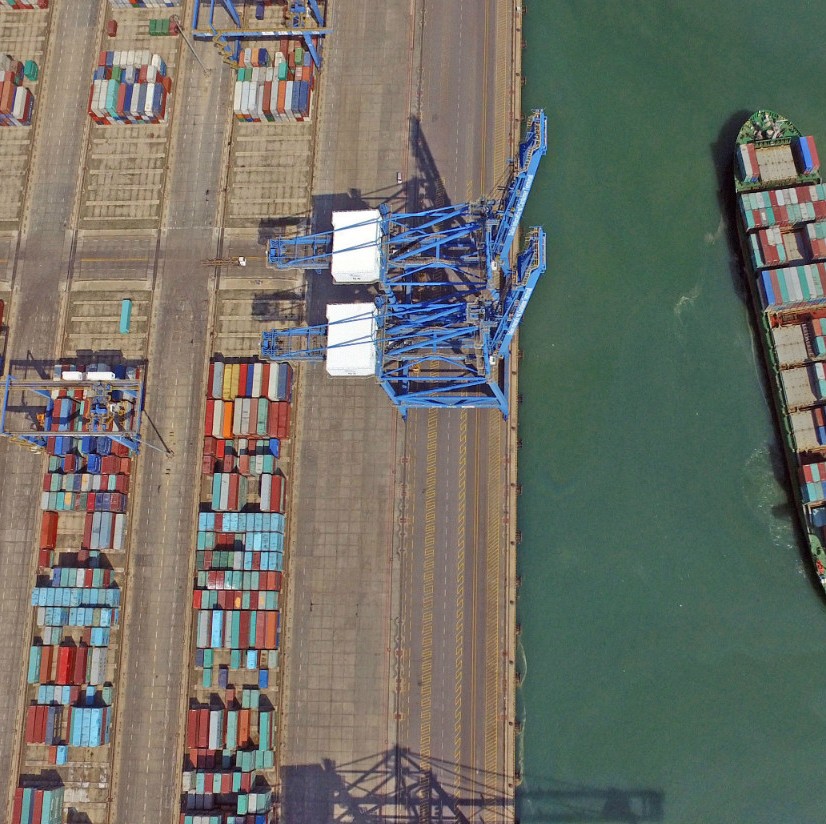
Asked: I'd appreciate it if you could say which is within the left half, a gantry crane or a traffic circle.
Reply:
gantry crane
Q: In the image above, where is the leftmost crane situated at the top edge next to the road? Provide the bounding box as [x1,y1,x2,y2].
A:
[190,0,332,69]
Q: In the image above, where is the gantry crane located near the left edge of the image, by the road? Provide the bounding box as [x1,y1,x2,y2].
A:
[0,364,146,454]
